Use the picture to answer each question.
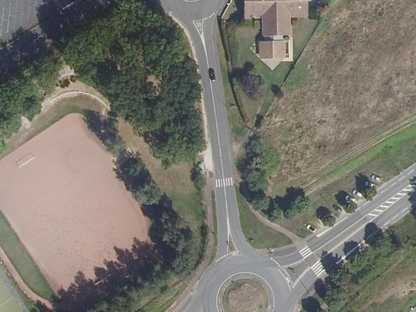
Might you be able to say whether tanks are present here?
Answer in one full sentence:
No, no tank can be seen from above.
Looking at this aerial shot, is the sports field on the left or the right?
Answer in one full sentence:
The sports field appears in the left half of the scene.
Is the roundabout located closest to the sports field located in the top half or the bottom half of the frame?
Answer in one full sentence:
The bottom half of the photo is where the roundabout located closest to the sports field is.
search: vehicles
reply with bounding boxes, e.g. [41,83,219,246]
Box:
[370,174,381,182]
[364,180,374,188]
[344,194,356,203]
[352,189,362,198]
[306,224,316,232]
[332,204,342,214]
